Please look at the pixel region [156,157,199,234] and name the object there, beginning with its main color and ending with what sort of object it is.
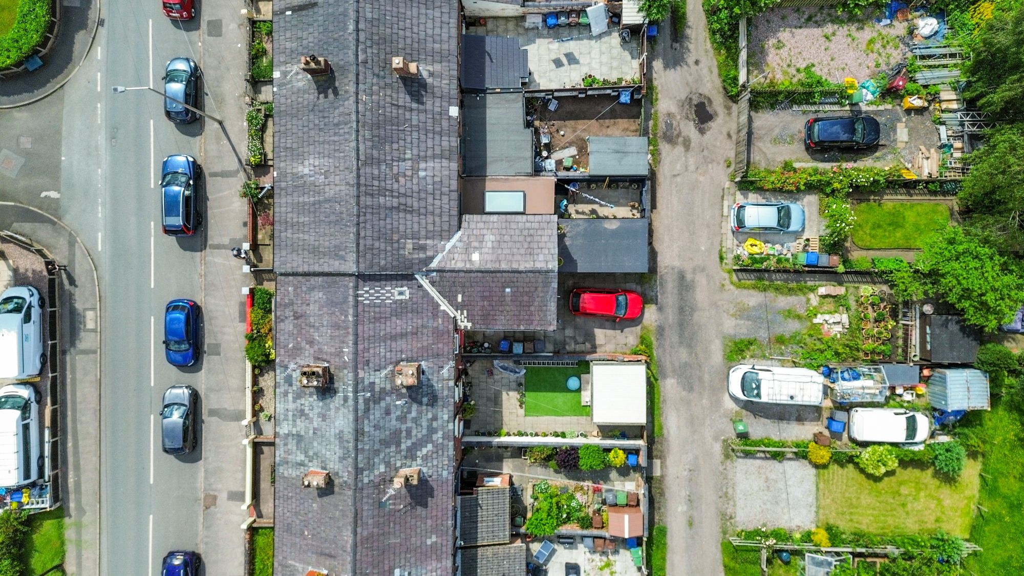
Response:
blue car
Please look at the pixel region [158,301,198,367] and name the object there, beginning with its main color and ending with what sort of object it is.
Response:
blue car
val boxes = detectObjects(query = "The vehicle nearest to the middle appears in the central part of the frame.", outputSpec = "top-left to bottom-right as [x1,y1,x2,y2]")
[572,287,643,324]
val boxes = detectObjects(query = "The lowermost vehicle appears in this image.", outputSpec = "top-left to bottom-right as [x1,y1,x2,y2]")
[160,553,197,576]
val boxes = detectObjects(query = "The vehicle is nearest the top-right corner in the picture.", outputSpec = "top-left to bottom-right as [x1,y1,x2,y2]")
[808,111,883,148]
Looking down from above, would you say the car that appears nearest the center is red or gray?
red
